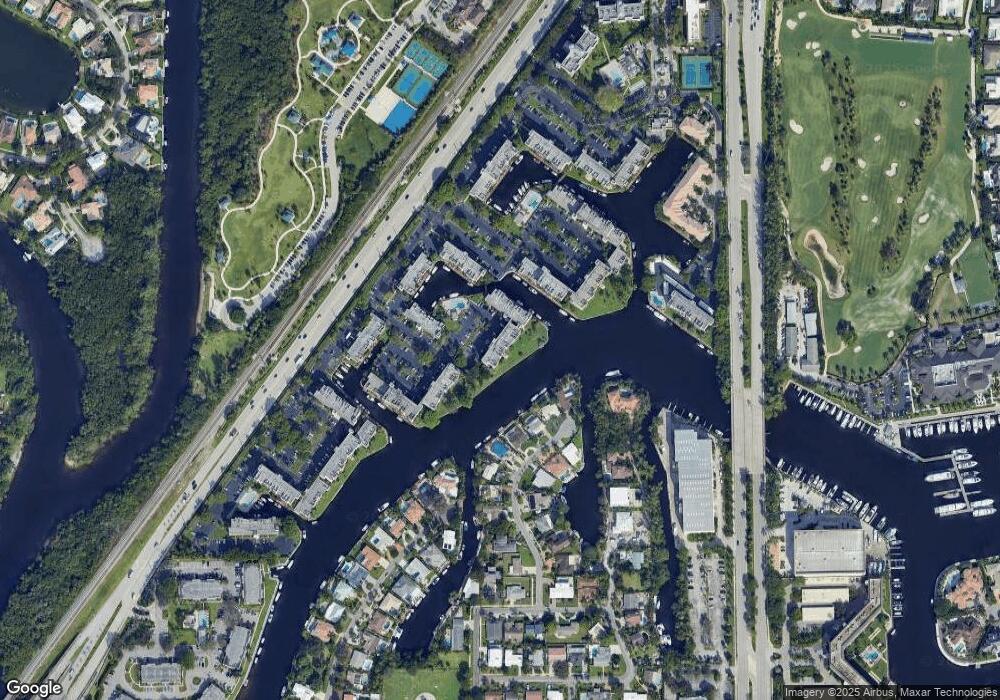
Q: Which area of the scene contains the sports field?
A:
right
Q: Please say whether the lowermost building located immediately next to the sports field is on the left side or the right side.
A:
right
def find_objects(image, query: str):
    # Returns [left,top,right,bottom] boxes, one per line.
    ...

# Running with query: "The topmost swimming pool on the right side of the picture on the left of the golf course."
[599,60,628,87]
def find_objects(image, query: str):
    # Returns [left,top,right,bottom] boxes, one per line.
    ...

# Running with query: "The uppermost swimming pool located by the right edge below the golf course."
[941,574,958,593]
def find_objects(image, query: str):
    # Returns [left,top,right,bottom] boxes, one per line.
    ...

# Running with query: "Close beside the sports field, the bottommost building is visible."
[913,332,1000,405]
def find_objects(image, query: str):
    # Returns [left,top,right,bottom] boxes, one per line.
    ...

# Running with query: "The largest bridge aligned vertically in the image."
[730,388,766,473]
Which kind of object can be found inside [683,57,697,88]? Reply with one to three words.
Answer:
tennis court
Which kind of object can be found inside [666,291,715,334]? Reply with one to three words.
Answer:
building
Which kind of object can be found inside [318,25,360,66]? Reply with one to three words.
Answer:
playground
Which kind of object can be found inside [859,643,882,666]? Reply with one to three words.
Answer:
swimming pool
